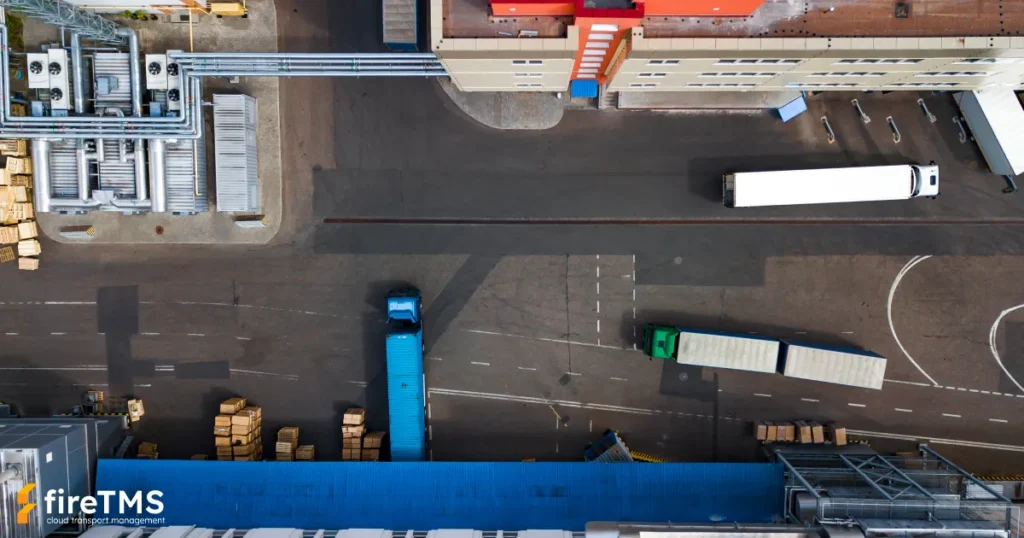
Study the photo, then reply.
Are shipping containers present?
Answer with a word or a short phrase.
Yes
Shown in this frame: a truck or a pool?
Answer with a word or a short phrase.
truck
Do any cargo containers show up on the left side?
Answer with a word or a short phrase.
Yes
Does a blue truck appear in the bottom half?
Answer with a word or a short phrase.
Yes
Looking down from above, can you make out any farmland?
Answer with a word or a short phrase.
No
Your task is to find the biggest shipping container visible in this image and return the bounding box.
[213,94,258,212]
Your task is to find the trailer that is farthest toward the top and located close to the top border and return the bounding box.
[383,0,424,52]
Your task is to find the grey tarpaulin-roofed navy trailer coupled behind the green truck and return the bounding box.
[775,336,886,390]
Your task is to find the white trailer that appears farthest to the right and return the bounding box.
[957,83,1024,188]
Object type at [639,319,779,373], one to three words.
truck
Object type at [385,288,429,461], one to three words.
truck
